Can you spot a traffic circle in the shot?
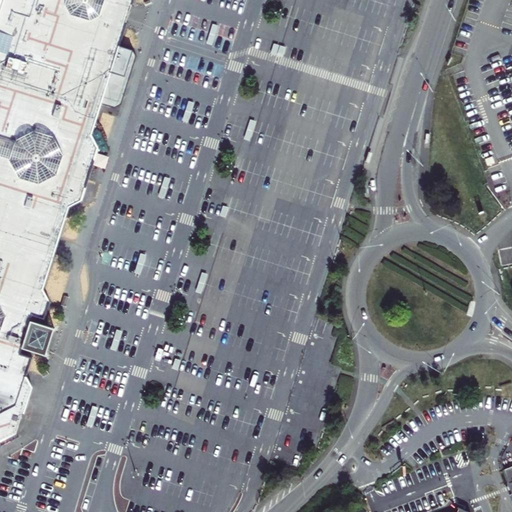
Yes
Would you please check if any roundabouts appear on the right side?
Yes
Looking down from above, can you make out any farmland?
No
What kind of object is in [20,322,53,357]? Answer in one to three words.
building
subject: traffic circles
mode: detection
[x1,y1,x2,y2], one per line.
[346,221,496,371]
